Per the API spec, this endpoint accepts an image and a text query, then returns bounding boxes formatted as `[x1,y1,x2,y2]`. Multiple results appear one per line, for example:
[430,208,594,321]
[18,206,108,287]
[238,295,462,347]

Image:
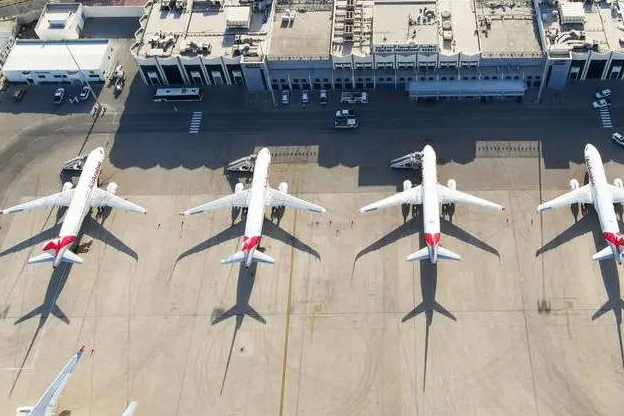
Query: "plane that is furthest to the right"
[537,144,624,262]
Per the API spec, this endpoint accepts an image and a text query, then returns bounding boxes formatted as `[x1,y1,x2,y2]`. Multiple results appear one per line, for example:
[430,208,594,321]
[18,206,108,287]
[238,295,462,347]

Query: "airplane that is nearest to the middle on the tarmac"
[184,146,325,266]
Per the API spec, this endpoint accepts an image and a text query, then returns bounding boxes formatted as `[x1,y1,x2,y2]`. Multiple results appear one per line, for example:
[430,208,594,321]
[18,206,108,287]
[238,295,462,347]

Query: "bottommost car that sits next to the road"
[610,133,624,146]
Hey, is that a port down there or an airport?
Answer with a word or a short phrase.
airport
